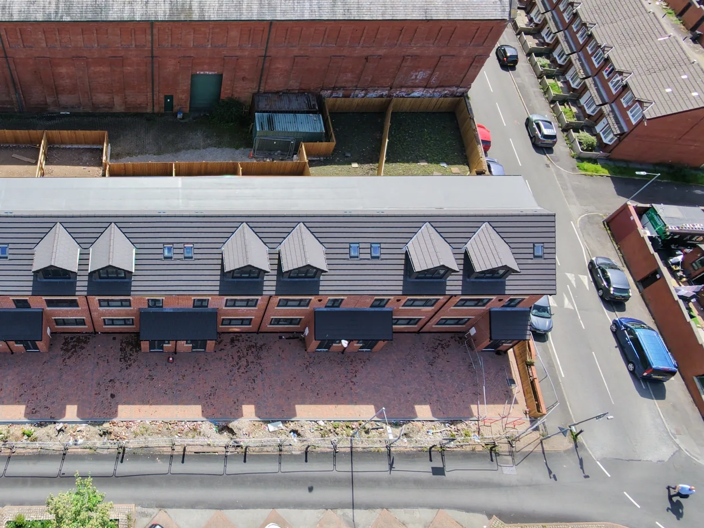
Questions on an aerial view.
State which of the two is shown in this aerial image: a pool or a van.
van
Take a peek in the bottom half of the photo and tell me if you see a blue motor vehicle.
Yes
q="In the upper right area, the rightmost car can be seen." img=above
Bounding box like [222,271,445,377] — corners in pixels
[522,113,564,152]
